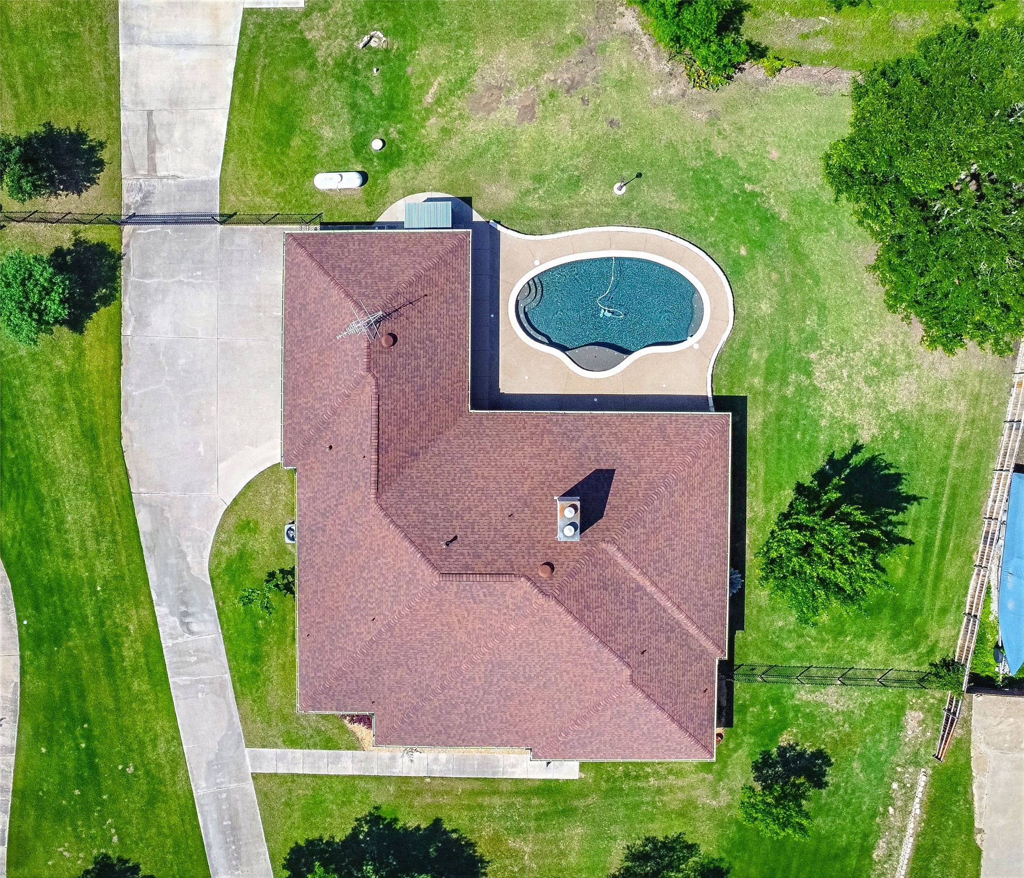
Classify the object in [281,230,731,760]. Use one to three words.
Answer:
house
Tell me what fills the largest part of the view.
grass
